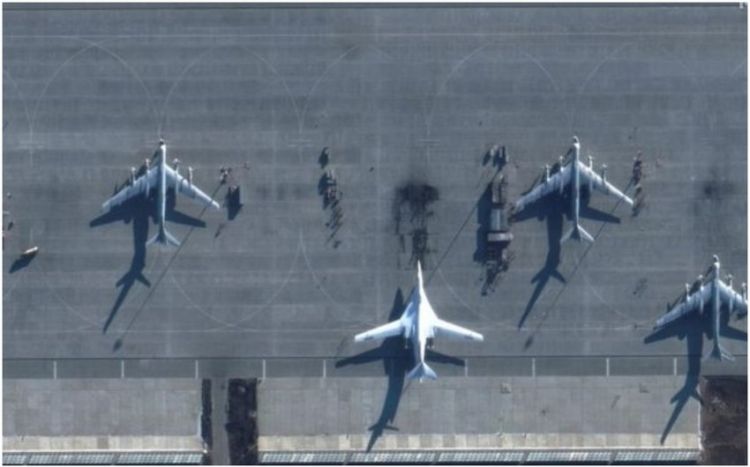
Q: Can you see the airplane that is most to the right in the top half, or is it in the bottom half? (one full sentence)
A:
You can find the airplane that is most to the right in the bottom half.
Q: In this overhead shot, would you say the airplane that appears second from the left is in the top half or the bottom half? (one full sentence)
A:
The airplane that appears second from the left is in the bottom half of the image.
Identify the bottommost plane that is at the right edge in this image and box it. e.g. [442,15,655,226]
[660,251,750,367]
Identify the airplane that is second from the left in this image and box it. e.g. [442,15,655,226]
[357,261,486,382]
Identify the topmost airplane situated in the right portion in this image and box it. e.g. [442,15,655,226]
[519,137,634,247]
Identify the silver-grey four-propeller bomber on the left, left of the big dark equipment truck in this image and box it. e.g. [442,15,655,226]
[104,135,220,249]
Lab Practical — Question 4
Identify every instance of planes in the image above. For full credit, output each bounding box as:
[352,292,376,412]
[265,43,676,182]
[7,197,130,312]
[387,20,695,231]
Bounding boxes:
[519,137,634,247]
[104,135,220,249]
[660,251,750,367]
[357,261,486,382]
